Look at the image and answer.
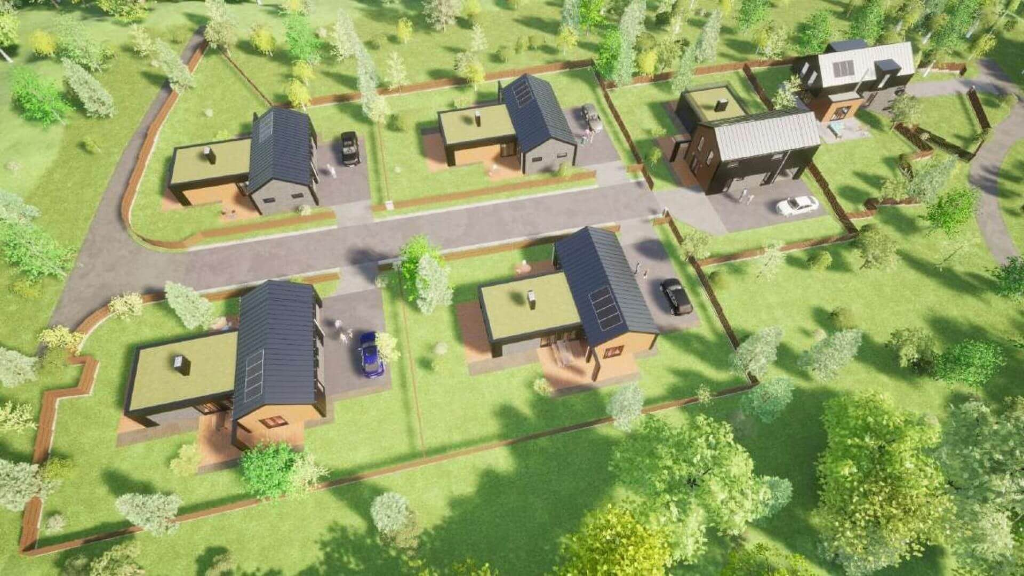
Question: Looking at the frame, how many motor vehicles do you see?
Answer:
5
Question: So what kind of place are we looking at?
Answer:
residential area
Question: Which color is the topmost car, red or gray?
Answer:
gray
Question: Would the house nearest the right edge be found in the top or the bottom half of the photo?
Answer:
top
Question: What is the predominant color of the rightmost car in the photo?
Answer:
white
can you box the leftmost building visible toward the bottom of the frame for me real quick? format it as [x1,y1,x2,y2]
[115,278,335,473]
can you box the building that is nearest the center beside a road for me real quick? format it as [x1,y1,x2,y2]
[455,223,661,397]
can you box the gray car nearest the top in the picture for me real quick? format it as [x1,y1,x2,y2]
[578,102,604,134]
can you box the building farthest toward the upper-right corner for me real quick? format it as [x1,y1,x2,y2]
[780,37,916,124]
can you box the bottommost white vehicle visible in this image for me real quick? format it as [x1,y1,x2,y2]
[773,194,822,219]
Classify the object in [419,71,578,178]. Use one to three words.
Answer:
house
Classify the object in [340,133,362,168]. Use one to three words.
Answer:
car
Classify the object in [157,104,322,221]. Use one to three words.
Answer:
house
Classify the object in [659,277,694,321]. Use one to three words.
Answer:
car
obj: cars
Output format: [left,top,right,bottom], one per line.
[340,133,362,168]
[578,102,604,134]
[659,277,694,321]
[773,194,822,219]
[357,334,387,382]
